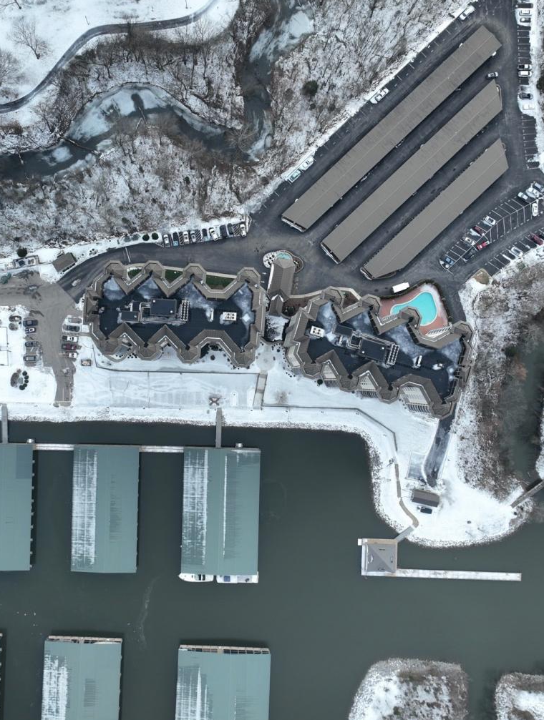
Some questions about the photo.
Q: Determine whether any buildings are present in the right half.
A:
Yes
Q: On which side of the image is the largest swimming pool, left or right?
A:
right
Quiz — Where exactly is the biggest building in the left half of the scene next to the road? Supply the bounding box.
[89,261,268,368]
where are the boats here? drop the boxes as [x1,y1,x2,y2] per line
[179,573,213,582]
[218,574,257,584]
